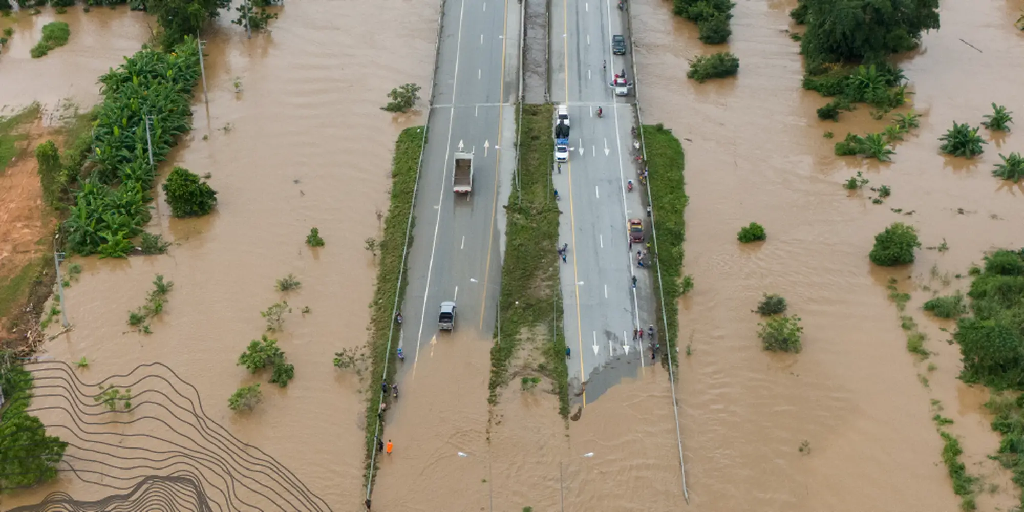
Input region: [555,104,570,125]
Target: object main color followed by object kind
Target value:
white vehicle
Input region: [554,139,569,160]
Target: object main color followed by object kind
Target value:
white vehicle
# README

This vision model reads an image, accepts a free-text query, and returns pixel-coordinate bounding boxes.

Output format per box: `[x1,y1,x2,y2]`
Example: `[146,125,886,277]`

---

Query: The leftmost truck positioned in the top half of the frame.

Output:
[451,152,476,193]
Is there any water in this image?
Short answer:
Yes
